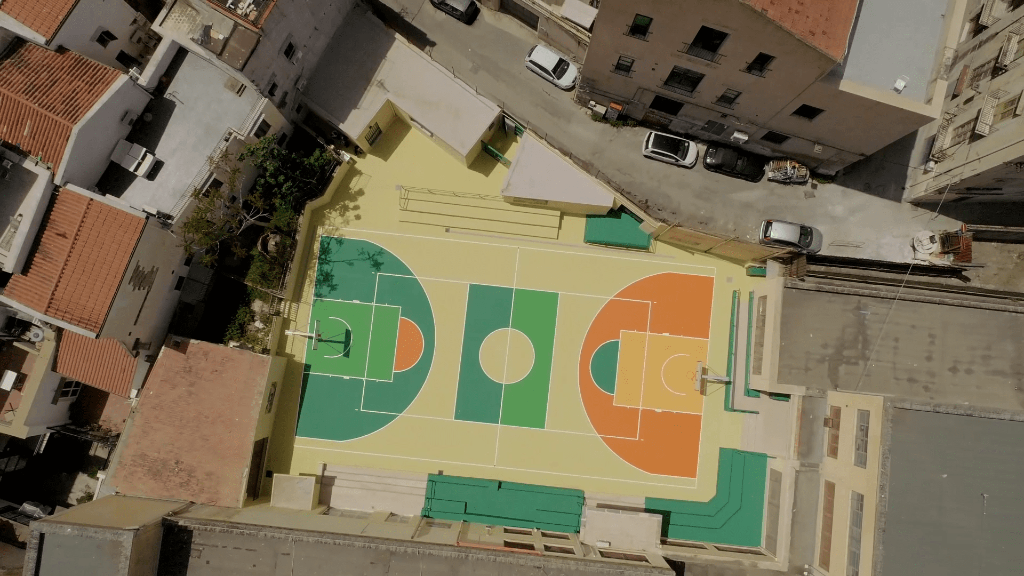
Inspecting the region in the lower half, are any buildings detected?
Yes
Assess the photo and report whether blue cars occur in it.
No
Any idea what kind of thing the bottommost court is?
basketball court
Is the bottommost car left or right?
right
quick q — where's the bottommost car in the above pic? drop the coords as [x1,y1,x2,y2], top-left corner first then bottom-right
[760,222,821,254]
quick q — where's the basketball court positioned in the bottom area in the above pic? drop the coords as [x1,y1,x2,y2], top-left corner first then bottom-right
[294,226,716,488]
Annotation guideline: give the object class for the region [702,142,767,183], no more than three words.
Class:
car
